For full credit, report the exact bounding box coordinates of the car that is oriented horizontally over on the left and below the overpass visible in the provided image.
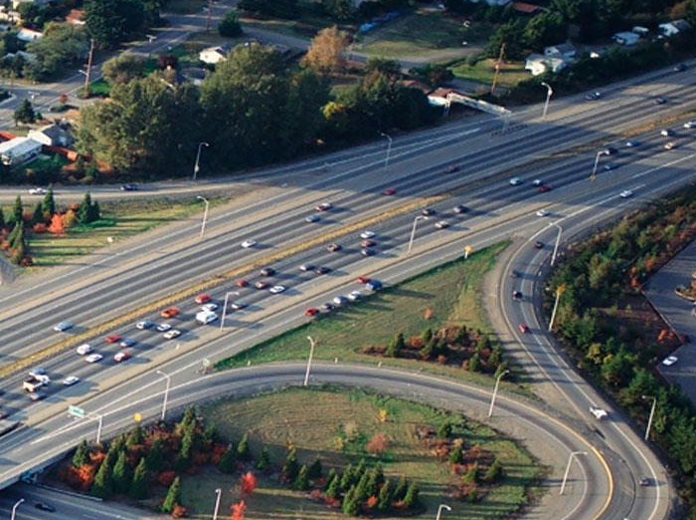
[33,501,56,513]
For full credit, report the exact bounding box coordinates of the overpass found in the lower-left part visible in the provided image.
[0,419,135,493]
